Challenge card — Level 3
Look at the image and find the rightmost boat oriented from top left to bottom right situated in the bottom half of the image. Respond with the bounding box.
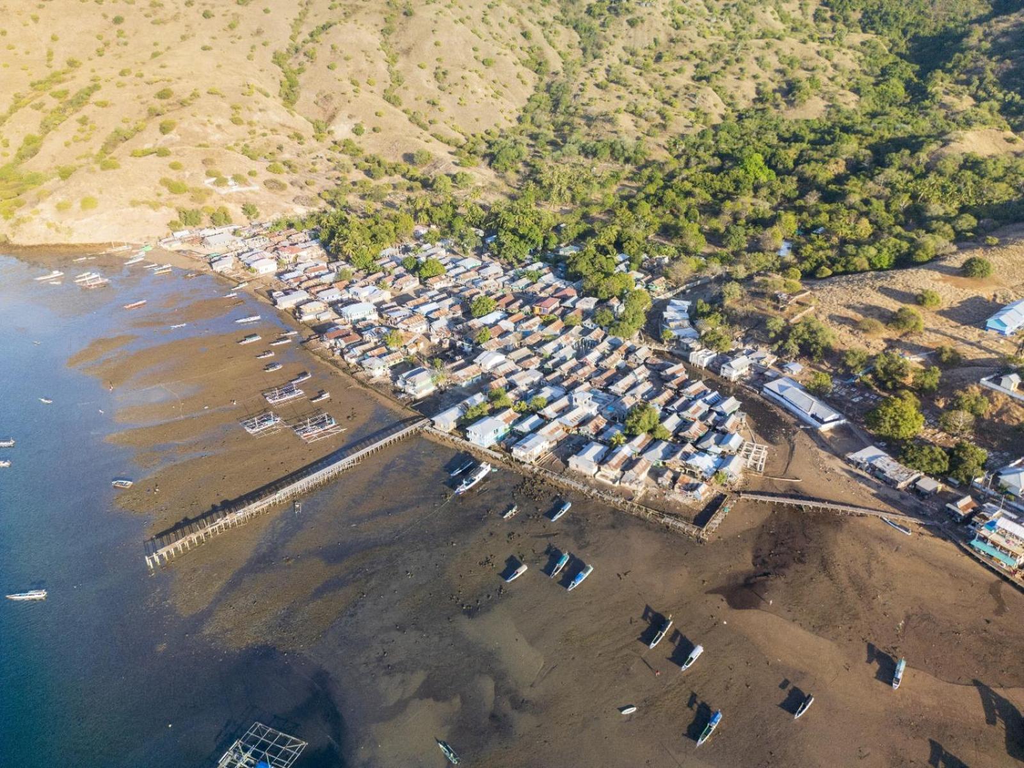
[883,512,912,534]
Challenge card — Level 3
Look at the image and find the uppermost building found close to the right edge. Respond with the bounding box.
[978,290,1024,340]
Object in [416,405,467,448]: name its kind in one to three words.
house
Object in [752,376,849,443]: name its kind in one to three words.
building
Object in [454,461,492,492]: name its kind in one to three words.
boat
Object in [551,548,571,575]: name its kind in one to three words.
boat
